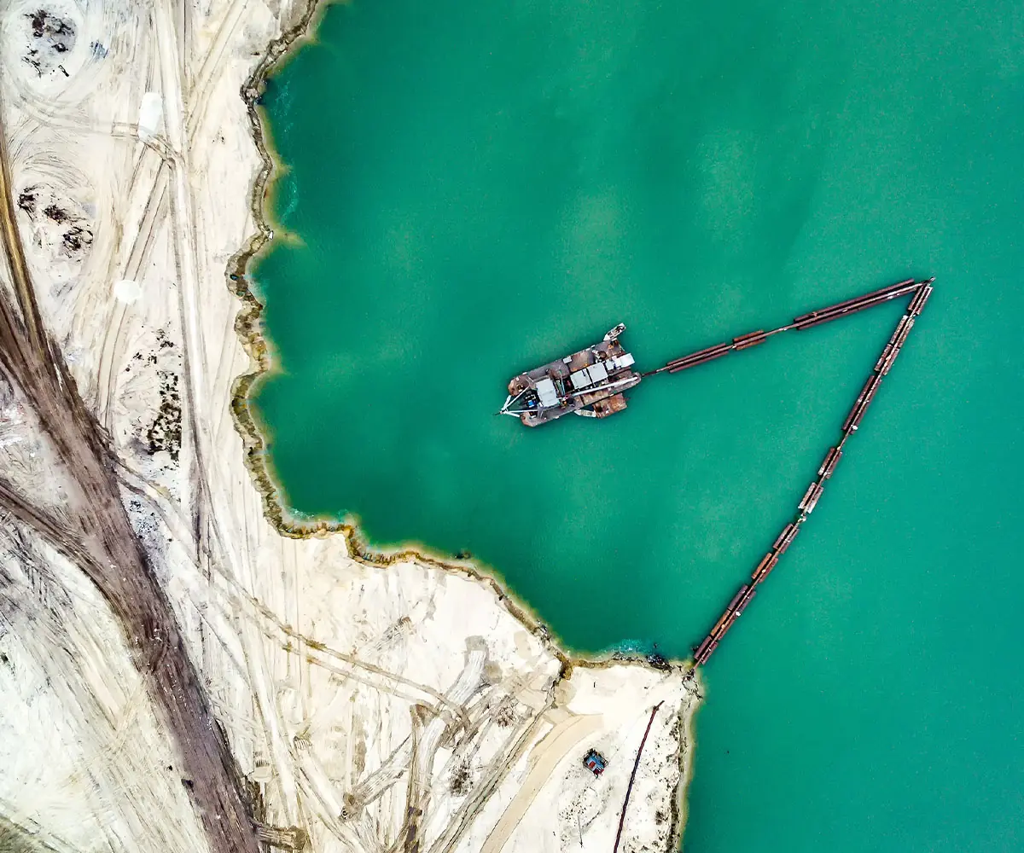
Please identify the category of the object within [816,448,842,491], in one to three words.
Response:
pier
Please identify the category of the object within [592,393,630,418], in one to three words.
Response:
ship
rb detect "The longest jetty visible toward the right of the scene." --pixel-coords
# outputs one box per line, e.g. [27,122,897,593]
[782,279,922,330]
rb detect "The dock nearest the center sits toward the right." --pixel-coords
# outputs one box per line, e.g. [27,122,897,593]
[641,343,734,376]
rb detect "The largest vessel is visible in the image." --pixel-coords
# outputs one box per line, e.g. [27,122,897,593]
[496,339,642,427]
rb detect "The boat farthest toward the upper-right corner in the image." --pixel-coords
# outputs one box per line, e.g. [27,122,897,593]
[604,323,627,342]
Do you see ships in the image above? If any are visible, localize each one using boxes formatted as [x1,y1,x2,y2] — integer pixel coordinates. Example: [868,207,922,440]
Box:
[592,393,630,418]
[496,339,642,427]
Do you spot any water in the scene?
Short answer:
Yes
